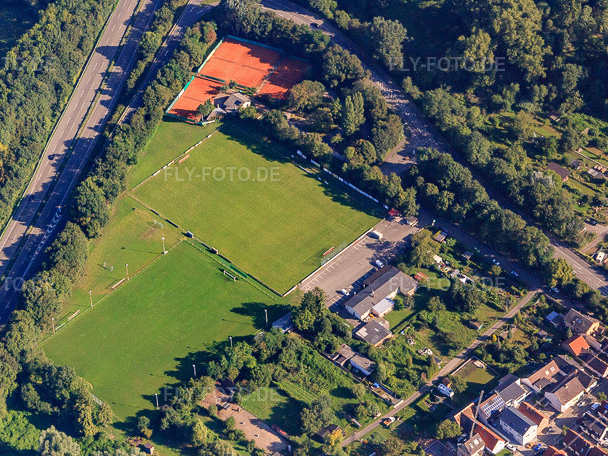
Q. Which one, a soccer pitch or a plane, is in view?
soccer pitch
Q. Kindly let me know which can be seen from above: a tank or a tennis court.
tennis court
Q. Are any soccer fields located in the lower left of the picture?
Yes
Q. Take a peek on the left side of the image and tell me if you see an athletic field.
Yes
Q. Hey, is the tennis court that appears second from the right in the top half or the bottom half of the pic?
top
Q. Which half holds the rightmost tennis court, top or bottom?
top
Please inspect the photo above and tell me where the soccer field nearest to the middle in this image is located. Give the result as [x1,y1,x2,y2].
[132,116,392,295]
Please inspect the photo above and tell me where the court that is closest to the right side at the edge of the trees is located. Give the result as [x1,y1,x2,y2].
[258,58,310,99]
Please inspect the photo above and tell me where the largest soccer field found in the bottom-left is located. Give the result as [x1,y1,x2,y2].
[43,241,279,429]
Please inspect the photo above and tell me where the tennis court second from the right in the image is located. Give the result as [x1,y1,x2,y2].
[229,48,282,91]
